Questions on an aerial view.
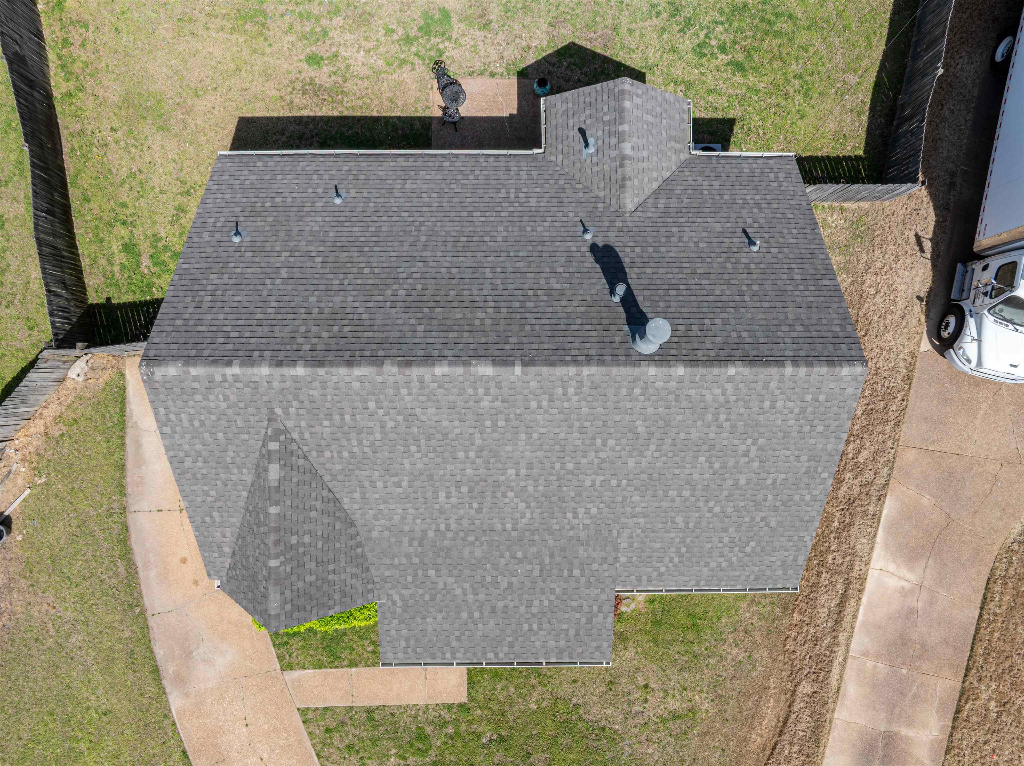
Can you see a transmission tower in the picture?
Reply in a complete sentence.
No, I find no transmission tower anywhere in the image.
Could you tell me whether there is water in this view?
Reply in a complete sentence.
No, water can't be seen anywhere here.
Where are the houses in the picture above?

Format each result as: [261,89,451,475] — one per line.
[138,77,868,668]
